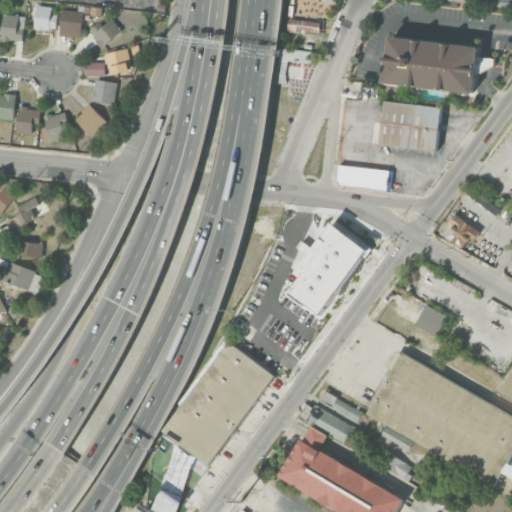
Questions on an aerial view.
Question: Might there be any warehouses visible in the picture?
Yes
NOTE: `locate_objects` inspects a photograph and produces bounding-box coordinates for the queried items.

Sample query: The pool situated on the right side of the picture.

[418,91,444,103]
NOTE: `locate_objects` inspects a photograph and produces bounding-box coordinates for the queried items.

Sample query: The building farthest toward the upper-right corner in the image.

[380,38,494,97]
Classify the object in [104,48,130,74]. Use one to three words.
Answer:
house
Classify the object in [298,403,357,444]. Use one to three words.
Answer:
building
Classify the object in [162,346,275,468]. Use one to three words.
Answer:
warehouse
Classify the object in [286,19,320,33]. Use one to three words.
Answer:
barn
